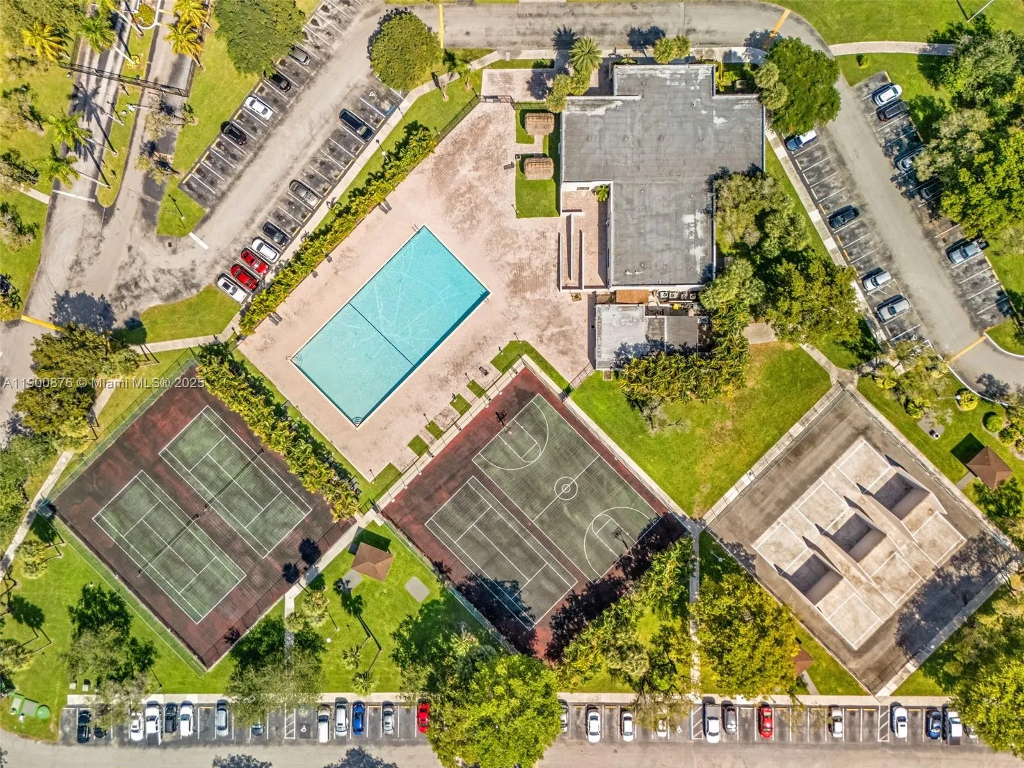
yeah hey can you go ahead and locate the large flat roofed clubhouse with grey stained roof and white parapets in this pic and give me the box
[560,58,764,290]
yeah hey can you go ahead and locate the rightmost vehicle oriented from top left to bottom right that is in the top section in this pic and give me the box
[341,111,372,140]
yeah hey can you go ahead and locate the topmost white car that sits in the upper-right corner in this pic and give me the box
[871,84,902,107]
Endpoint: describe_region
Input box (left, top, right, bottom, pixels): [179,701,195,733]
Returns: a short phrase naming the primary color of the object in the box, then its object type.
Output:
white car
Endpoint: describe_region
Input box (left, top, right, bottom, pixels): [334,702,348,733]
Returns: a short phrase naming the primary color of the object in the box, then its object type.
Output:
white car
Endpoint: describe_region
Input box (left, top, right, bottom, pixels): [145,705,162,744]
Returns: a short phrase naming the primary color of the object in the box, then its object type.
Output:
white vehicle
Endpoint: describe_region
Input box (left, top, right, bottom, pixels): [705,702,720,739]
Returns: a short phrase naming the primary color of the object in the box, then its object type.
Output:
white vehicle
